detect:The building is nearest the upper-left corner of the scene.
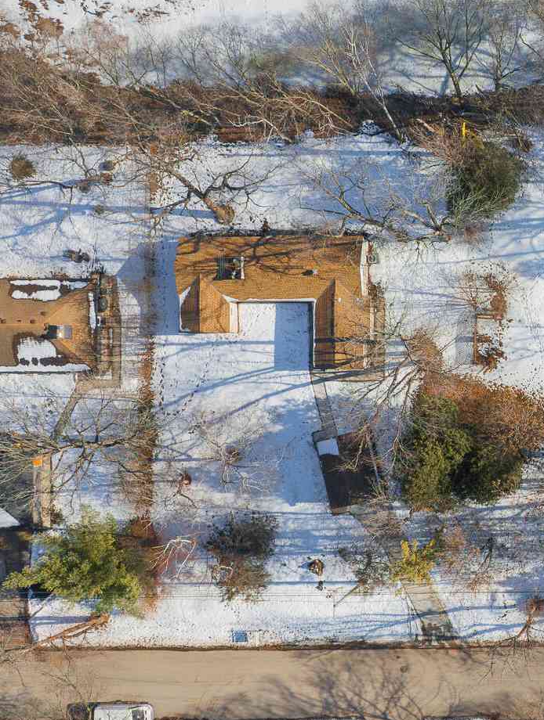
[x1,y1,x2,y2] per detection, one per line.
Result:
[0,278,101,376]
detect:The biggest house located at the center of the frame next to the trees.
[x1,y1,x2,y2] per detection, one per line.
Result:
[169,233,368,370]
